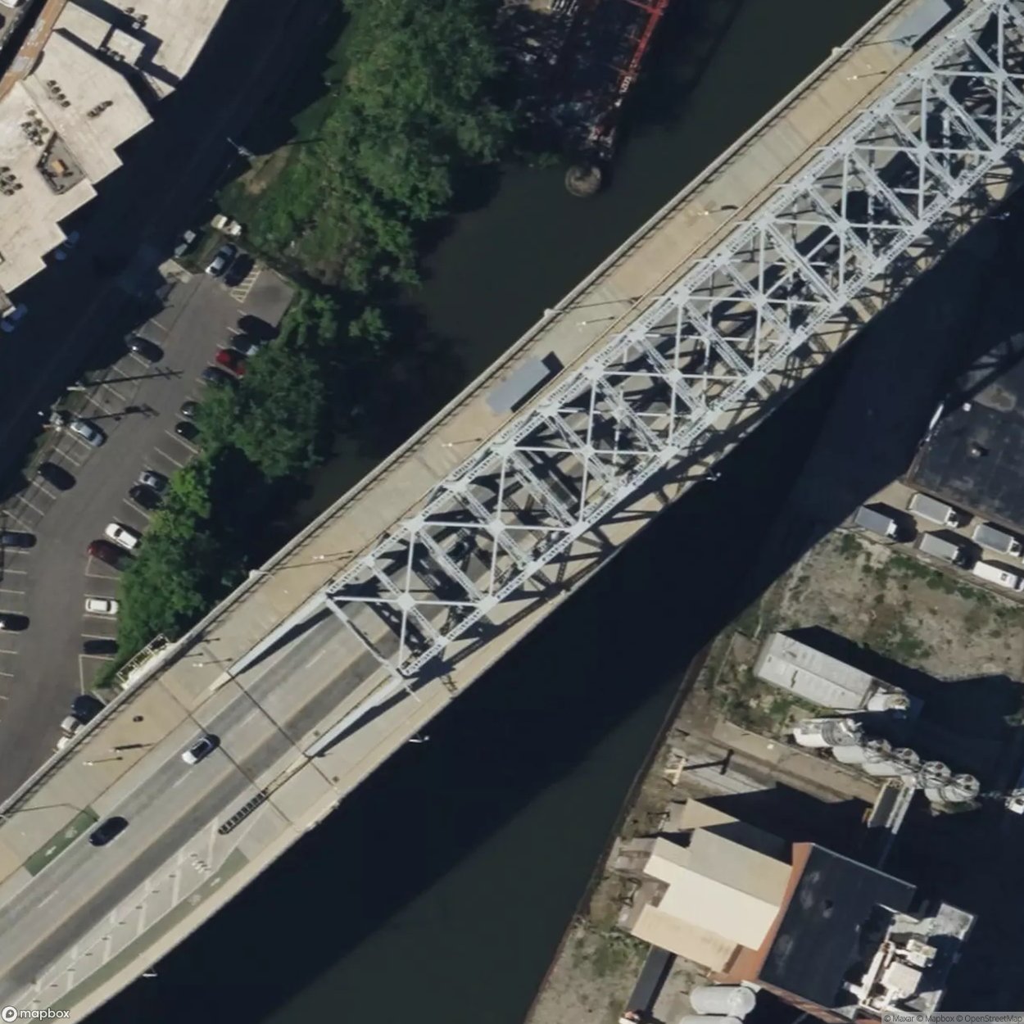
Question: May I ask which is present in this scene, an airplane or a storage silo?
storage silo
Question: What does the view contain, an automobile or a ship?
automobile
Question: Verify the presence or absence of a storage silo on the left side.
No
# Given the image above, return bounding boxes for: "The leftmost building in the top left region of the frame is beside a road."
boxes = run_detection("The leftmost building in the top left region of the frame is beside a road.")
[0,0,232,320]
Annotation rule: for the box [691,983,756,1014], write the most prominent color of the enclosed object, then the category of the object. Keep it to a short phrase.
white silo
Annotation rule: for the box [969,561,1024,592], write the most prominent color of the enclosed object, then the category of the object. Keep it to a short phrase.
white truck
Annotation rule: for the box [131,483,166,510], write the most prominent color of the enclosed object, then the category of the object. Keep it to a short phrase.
black car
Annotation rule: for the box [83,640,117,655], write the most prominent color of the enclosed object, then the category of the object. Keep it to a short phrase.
black car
